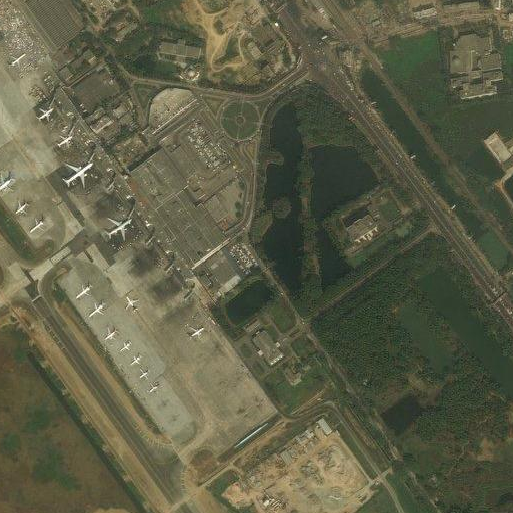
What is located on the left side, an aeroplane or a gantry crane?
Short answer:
aeroplane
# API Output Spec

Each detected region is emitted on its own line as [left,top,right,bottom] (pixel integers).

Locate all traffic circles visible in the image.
[221,101,260,139]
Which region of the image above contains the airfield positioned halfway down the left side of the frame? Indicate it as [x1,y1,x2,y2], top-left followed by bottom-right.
[0,0,276,513]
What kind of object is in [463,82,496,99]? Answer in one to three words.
building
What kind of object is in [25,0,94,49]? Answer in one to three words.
hangar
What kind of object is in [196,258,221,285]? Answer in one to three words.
building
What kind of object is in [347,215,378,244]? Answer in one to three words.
house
